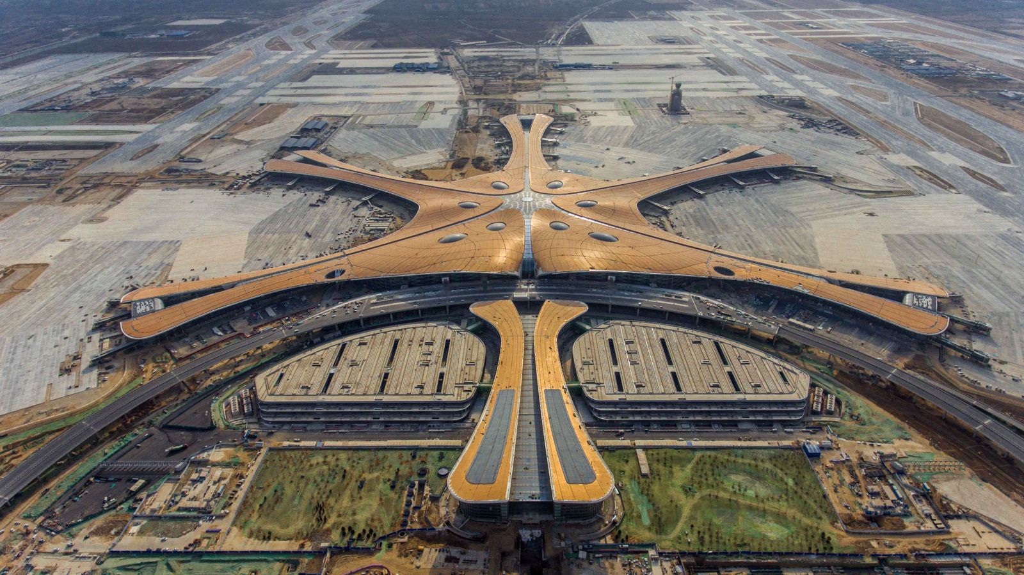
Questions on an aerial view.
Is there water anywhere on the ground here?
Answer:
No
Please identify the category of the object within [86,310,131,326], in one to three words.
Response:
jet bridge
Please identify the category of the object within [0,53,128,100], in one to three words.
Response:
runway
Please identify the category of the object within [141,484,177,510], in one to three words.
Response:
shed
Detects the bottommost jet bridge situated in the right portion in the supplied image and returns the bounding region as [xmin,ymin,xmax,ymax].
[933,334,1000,364]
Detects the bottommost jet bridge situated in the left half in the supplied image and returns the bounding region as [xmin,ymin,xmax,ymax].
[81,339,135,364]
